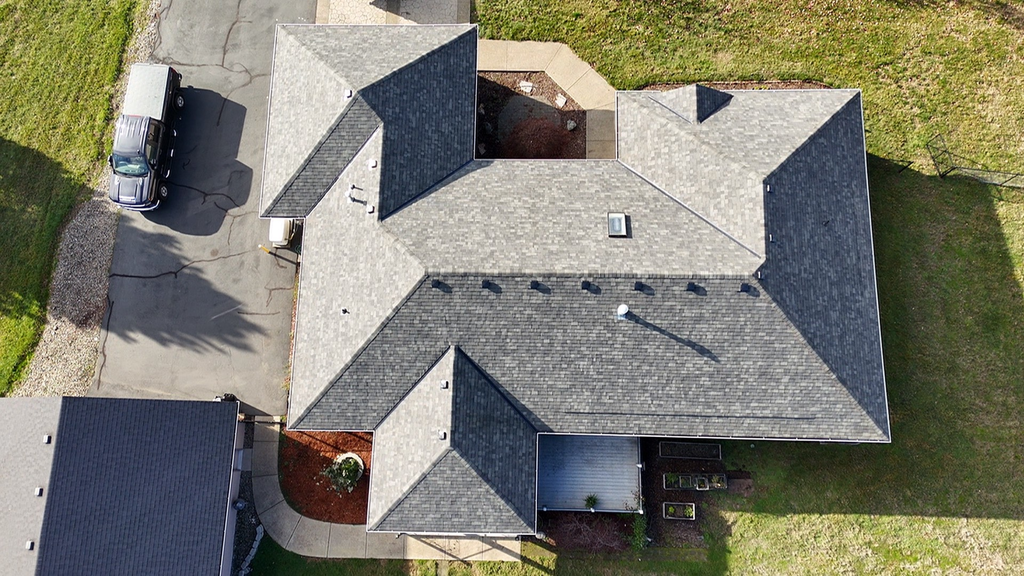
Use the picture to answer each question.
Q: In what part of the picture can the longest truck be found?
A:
top left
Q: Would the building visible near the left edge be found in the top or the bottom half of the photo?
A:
bottom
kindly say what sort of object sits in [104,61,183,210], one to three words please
truck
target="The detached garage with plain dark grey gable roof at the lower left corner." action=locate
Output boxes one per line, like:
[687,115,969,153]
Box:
[0,395,245,576]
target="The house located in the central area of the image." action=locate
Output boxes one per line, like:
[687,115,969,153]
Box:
[257,24,891,540]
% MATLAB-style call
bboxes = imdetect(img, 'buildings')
[257,24,891,540]
[0,395,245,576]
